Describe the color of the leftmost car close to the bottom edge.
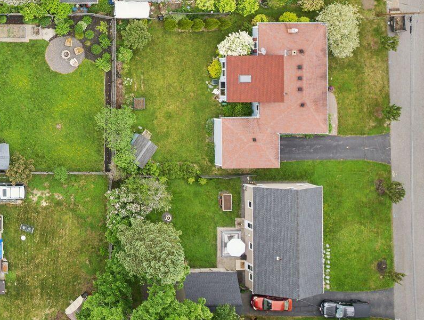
red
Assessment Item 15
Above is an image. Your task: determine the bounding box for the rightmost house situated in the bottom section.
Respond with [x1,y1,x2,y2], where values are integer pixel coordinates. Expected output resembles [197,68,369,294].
[234,183,324,300]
